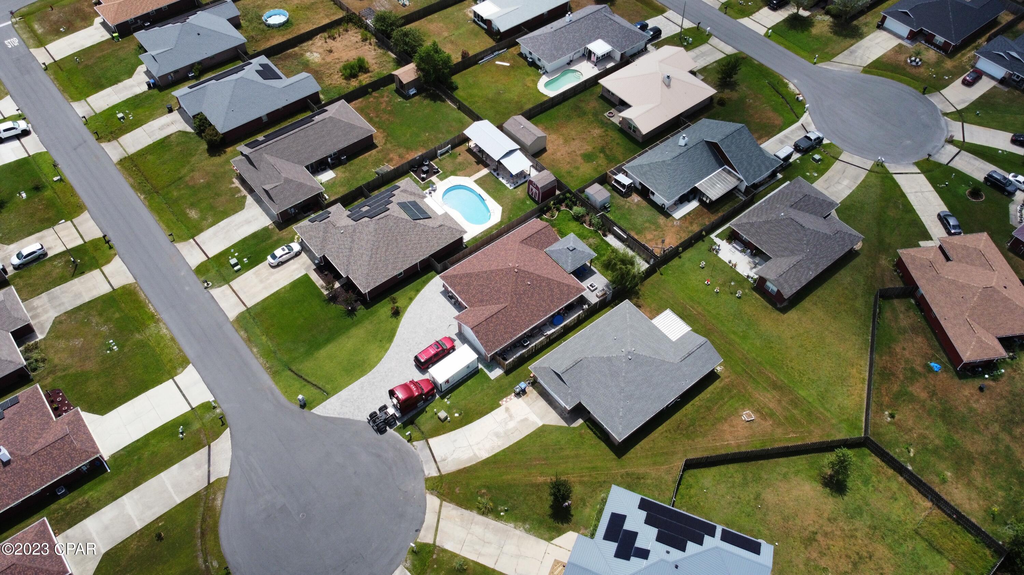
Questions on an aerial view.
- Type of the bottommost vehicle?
truck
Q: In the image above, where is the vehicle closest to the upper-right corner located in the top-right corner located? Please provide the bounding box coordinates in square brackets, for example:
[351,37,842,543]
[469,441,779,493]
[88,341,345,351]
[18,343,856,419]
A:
[960,66,985,84]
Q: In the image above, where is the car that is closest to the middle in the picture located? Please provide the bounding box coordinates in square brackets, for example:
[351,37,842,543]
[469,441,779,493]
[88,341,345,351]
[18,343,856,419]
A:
[413,337,459,370]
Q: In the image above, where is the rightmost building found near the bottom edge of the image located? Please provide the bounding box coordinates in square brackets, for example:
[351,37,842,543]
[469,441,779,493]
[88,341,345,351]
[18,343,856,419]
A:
[562,484,775,575]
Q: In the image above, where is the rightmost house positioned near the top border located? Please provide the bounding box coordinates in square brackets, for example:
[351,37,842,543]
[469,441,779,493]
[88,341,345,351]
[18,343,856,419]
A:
[972,19,1024,88]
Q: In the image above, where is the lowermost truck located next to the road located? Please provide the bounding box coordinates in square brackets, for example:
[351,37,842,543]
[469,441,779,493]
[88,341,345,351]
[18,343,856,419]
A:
[363,376,443,431]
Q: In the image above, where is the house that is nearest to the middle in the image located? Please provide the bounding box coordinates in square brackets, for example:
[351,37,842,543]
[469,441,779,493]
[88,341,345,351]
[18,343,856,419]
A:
[438,217,587,363]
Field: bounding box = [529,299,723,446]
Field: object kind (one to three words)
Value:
house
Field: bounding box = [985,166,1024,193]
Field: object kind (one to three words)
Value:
car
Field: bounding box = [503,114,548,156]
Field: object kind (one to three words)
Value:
shed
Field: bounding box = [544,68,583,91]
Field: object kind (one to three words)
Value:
swimming pool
